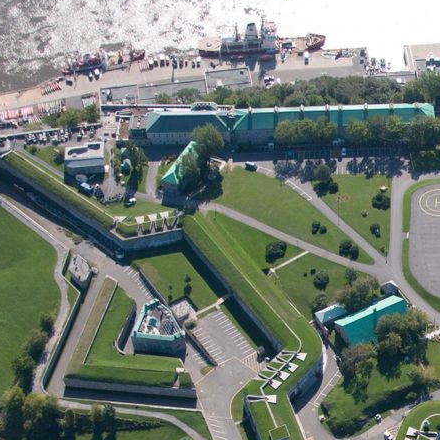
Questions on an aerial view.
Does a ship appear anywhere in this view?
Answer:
Yes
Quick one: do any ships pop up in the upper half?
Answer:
Yes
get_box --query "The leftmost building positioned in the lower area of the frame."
[70,254,94,289]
